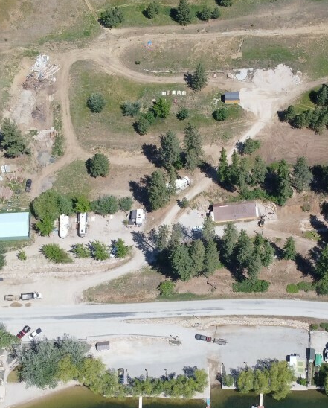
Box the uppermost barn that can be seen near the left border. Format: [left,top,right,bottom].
[0,213,32,243]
